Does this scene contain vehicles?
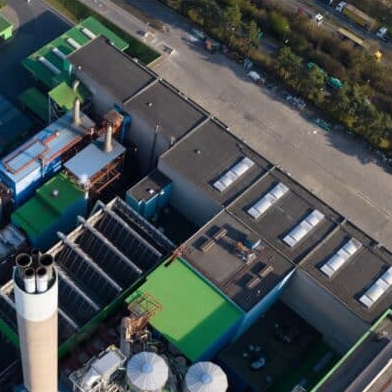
Yes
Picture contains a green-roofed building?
Yes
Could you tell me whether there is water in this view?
No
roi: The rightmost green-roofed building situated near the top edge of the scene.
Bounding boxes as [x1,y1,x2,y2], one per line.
[22,17,129,113]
